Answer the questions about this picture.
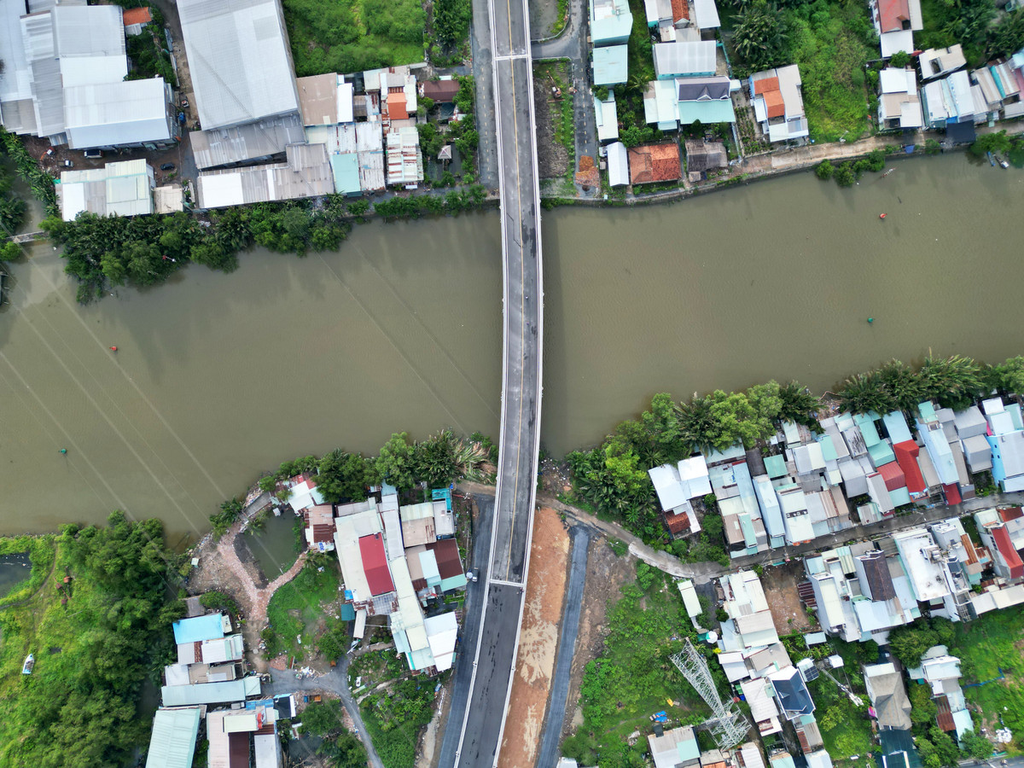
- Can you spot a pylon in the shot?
Yes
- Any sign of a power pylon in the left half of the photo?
No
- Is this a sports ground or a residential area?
residential area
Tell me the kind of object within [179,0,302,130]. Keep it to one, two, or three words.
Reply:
building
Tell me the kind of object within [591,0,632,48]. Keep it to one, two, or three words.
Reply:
house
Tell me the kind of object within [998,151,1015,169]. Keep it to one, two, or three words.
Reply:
boat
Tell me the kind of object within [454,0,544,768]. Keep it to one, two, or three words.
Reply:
bridge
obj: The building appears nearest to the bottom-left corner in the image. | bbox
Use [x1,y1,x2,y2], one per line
[145,701,211,768]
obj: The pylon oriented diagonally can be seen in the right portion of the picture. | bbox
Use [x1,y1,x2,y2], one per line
[671,639,753,747]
